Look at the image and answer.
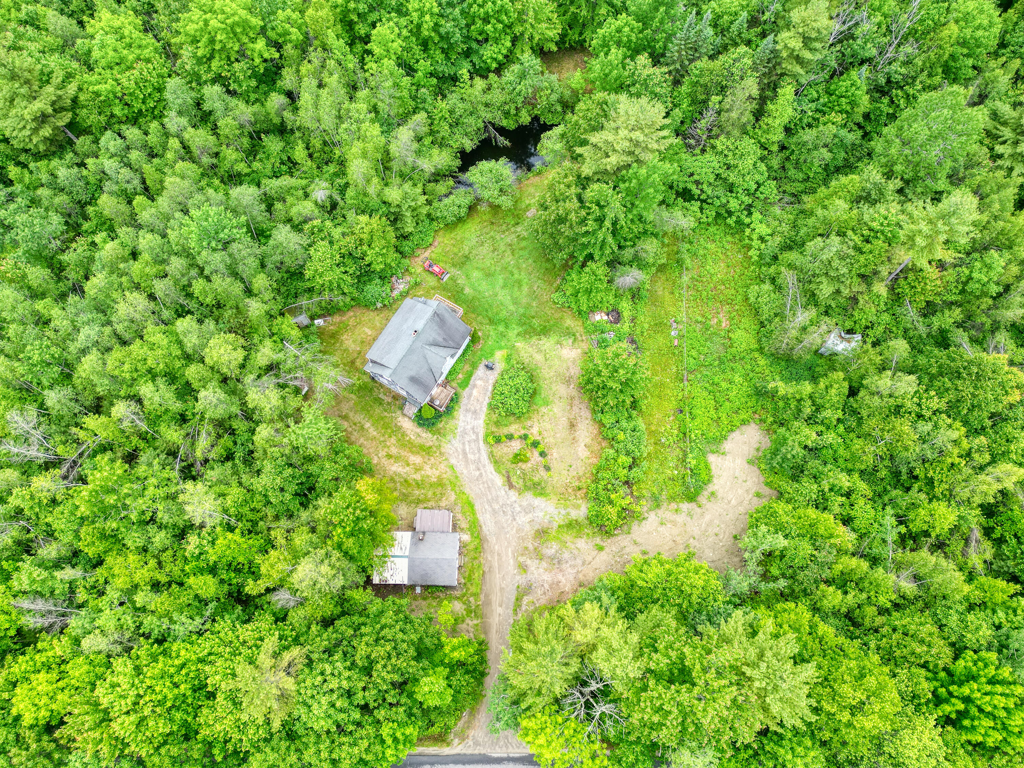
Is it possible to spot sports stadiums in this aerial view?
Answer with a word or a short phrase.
No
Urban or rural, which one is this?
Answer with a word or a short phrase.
rural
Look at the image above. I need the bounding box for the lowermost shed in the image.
[370,511,468,587]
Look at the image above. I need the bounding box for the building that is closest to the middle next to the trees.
[362,294,473,421]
